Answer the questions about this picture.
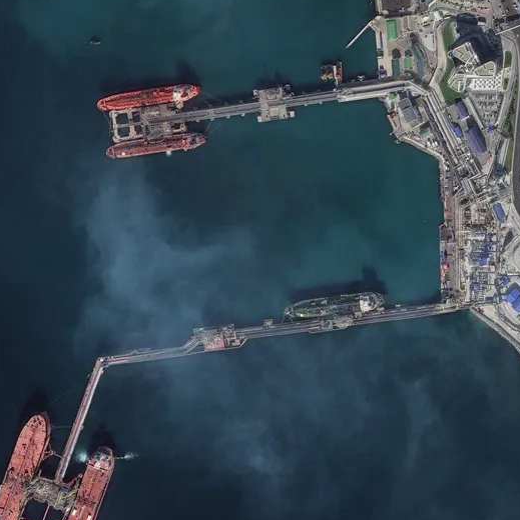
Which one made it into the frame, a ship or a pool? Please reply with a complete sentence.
Visible in the photo is a ship.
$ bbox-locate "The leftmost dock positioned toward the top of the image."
[156,90,339,124]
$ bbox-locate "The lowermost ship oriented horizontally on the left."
[106,133,209,158]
